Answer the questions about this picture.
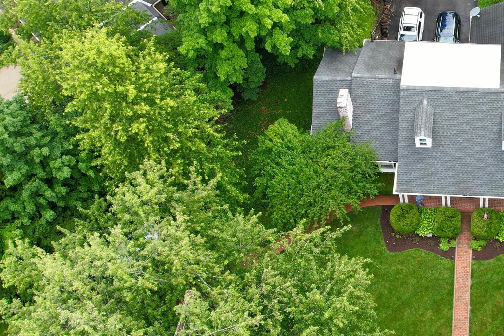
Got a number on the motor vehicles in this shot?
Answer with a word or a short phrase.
2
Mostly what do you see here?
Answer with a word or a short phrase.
trees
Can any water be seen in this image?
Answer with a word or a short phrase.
No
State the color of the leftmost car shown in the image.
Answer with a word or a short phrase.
white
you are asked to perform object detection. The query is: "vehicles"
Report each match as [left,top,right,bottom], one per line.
[435,12,461,40]
[396,6,426,41]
